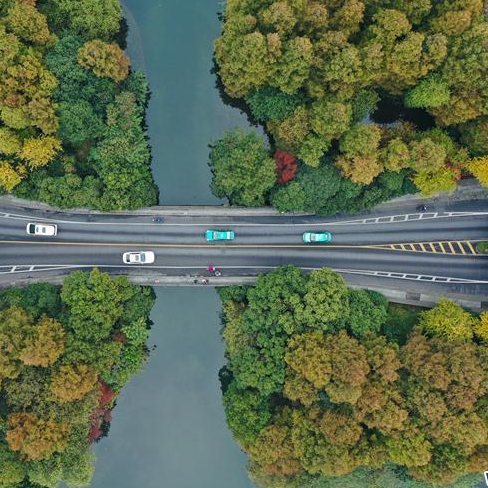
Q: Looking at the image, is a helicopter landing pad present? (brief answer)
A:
No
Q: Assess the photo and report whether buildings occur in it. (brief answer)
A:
No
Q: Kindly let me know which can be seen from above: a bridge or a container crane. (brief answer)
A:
bridge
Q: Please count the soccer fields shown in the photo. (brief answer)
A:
0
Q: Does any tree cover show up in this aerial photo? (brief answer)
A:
Yes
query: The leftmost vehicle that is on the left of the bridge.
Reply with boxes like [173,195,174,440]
[26,220,58,235]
